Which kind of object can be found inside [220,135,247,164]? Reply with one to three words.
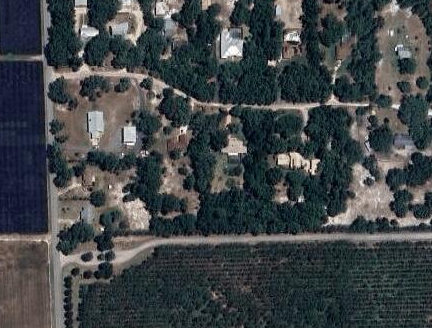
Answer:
house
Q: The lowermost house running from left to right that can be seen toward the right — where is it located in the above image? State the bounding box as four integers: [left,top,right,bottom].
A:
[267,152,321,176]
